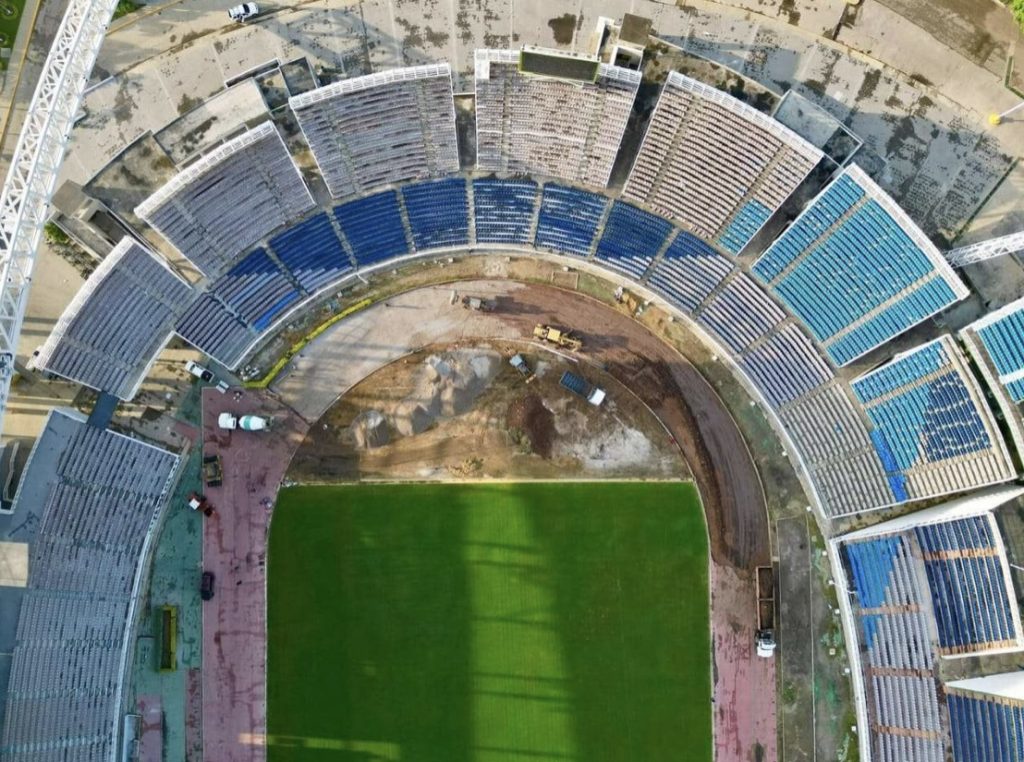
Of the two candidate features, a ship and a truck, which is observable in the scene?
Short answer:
truck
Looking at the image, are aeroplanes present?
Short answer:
No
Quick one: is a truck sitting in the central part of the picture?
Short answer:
Yes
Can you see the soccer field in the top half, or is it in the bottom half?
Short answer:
bottom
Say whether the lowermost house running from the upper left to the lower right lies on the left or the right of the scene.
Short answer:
left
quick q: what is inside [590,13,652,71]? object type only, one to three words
house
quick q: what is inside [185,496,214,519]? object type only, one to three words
work vehicle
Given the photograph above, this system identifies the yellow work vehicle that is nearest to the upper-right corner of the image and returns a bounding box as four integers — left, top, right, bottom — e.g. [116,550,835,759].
[533,323,588,355]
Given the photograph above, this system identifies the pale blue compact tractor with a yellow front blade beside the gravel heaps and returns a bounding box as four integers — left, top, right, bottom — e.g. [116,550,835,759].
[510,354,534,382]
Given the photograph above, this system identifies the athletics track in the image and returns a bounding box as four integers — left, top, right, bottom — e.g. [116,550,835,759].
[203,278,779,762]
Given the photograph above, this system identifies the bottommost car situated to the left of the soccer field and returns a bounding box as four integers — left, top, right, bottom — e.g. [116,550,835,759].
[198,573,213,601]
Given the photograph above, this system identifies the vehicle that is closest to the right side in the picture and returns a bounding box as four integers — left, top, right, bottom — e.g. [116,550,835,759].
[755,567,778,661]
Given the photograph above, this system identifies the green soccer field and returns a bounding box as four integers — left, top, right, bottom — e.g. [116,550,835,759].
[263,480,716,762]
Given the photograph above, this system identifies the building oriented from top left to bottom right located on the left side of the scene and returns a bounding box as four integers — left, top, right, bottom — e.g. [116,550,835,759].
[55,180,142,260]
